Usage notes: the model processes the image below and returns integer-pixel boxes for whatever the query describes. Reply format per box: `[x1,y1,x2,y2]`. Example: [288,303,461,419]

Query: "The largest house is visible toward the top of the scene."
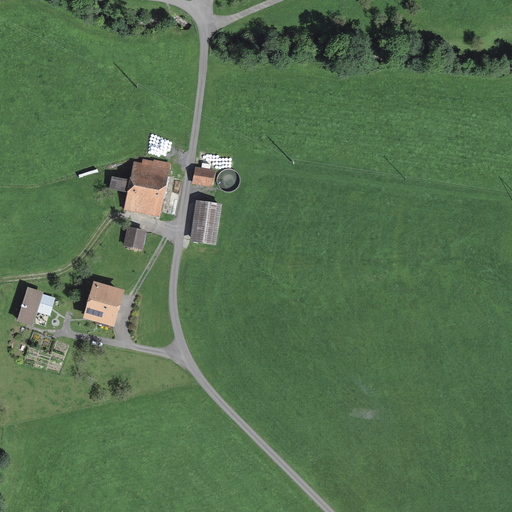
[123,160,170,217]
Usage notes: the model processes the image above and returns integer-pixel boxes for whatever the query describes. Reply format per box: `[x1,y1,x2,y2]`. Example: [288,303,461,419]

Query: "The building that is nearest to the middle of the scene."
[190,200,222,245]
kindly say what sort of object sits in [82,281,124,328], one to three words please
house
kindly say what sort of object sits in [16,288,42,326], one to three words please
house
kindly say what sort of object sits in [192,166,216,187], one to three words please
shed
